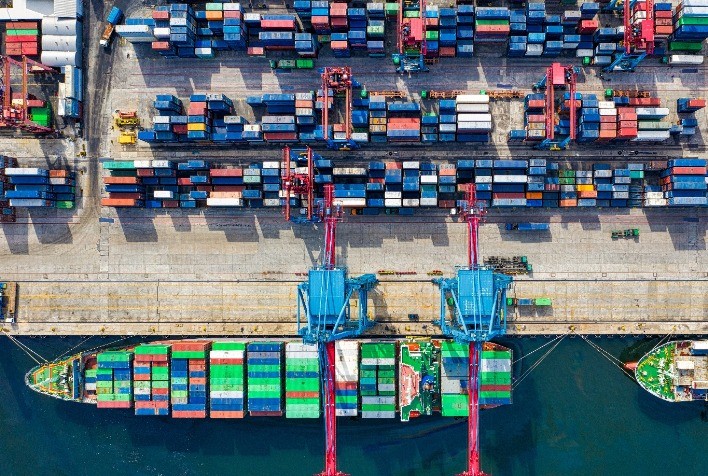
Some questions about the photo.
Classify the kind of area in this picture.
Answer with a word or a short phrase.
port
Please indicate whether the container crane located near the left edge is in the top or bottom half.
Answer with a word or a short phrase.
top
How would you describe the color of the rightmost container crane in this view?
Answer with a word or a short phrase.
red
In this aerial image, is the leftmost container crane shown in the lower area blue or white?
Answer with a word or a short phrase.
blue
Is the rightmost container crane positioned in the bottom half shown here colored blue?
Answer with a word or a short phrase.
Yes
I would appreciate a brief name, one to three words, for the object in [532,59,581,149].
container crane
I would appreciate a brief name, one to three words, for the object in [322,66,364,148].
container crane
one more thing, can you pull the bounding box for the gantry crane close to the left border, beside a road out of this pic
[0,53,68,132]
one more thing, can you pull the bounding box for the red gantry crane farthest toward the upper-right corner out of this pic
[602,0,658,73]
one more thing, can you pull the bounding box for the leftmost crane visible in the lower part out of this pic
[292,183,384,476]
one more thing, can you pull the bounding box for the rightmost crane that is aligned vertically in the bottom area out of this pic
[427,183,511,476]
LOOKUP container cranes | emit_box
[281,144,327,222]
[427,183,511,476]
[0,53,68,132]
[532,59,581,149]
[395,0,431,65]
[292,183,384,476]
[322,66,364,148]
[602,0,658,73]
